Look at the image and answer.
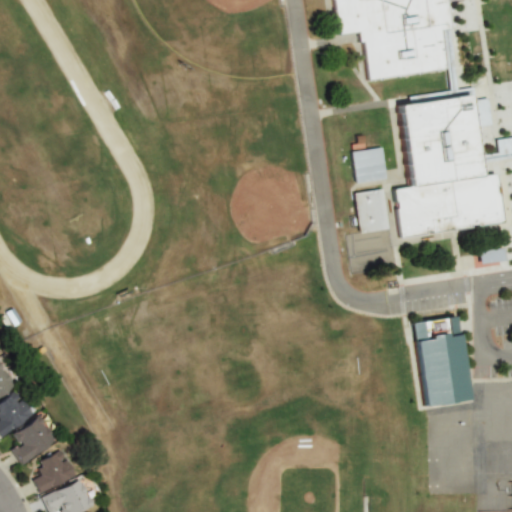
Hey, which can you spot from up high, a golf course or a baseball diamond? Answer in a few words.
baseball diamond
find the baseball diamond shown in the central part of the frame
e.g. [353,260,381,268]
[232,167,310,242]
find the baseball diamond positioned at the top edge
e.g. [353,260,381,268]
[132,0,294,80]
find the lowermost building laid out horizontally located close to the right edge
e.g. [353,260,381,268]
[393,174,504,237]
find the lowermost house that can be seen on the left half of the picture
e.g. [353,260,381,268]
[42,478,97,512]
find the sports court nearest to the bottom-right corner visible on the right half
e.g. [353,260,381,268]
[427,384,512,512]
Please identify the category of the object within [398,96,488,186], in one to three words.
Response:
building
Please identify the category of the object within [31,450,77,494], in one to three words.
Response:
house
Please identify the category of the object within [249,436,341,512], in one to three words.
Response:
baseball field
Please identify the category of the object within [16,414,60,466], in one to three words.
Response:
house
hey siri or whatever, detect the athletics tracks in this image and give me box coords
[0,0,154,299]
